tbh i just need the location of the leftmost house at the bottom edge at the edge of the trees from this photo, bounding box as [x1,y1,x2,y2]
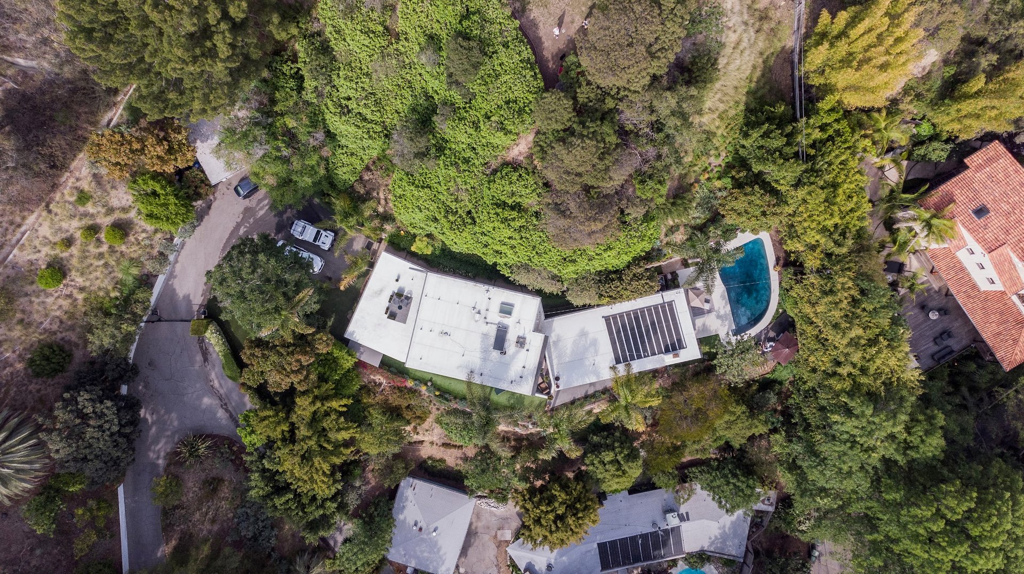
[387,474,478,574]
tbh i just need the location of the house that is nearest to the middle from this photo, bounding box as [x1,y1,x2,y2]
[344,252,701,396]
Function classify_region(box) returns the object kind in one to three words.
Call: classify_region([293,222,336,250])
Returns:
car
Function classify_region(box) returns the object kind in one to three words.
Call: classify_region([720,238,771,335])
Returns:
swimming pool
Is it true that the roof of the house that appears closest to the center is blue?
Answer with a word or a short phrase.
No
